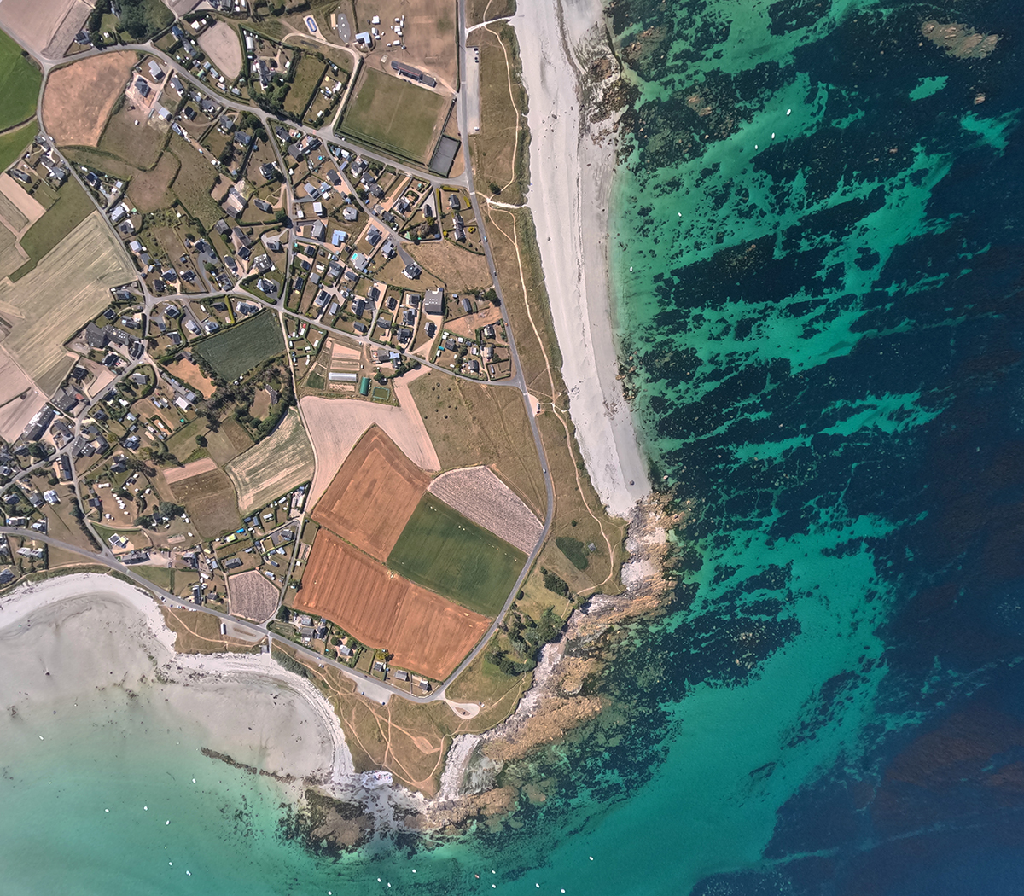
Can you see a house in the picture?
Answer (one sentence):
Yes, I can see a house in this picture.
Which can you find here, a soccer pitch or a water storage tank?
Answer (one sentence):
Visible in the photo is a soccer pitch.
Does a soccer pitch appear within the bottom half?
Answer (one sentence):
No, I can find no soccer pitch within the bottom half.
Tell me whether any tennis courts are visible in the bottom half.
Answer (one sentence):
No, no tennis court is visible in the bottom half.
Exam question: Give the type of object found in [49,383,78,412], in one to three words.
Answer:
house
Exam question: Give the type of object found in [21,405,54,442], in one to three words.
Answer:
barn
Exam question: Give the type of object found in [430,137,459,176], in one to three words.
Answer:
tennis court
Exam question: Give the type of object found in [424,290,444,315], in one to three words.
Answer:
building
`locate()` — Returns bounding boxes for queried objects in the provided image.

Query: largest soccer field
[344,69,443,159]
